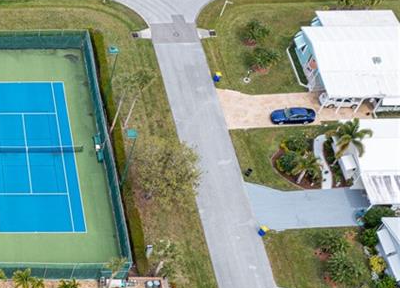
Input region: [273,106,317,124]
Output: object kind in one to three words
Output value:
car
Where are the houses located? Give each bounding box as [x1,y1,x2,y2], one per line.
[337,116,400,217]
[292,10,400,113]
[379,217,400,286]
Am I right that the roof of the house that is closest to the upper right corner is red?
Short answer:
No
